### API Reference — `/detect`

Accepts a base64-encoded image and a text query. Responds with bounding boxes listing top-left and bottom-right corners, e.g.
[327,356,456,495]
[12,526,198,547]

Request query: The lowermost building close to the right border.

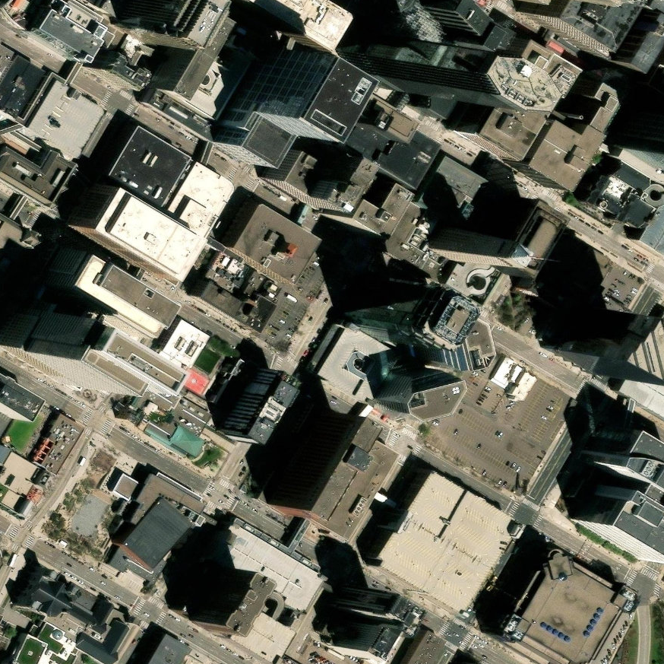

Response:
[486,555,634,664]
